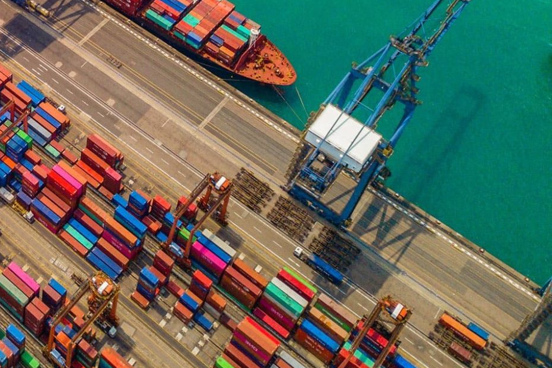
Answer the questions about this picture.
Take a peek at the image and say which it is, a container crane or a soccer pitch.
container crane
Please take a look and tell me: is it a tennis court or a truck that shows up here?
truck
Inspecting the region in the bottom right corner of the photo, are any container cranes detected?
Yes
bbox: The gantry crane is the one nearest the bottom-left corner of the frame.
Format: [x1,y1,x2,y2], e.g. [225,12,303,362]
[42,266,127,368]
